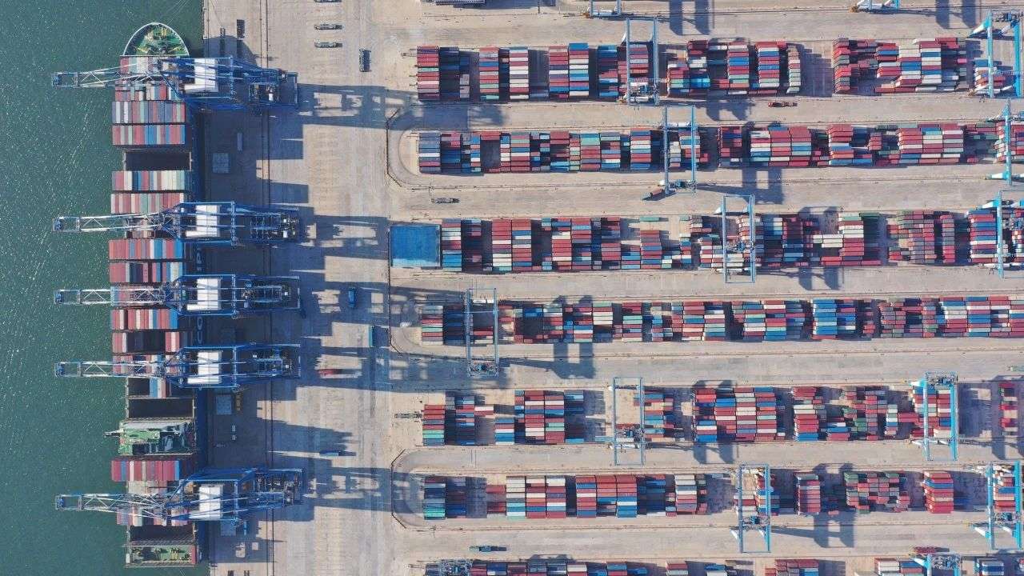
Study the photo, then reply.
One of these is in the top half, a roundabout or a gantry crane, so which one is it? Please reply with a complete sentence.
The feature located in the top half is a gantry crane.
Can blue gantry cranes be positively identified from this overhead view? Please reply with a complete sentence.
Yes, the frame does contain a blue gantry crane.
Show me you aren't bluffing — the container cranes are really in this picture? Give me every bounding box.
[465,289,502,376]
[618,17,659,106]
[984,99,1024,187]
[438,555,473,576]
[966,7,1022,100]
[966,460,1022,549]
[711,195,755,283]
[55,455,304,523]
[53,269,301,320]
[917,550,961,576]
[606,377,646,465]
[726,463,771,552]
[51,54,298,123]
[905,370,958,461]
[975,192,1024,279]
[52,199,300,254]
[655,105,697,193]
[54,335,302,390]
[584,0,622,16]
